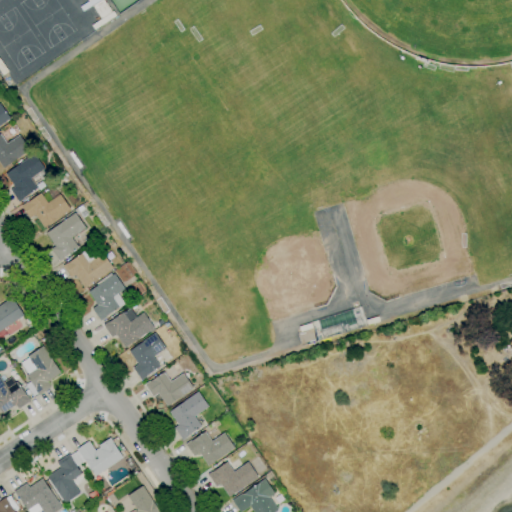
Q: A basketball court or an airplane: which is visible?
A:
basketball court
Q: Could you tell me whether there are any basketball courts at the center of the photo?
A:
No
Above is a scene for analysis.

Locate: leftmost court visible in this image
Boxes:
[0,7,46,70]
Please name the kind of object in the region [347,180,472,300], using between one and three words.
baseball field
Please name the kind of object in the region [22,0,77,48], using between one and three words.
basketball court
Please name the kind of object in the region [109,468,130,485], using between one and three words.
swimming pool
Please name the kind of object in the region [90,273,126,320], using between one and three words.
house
